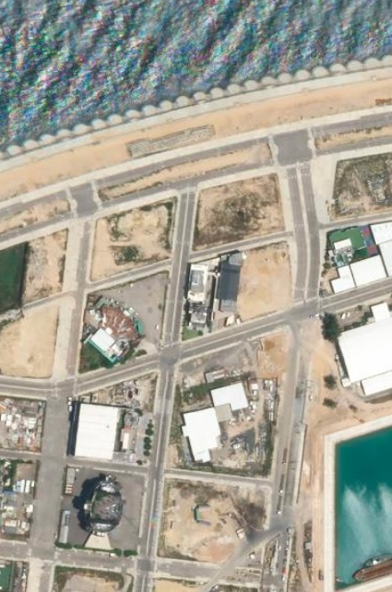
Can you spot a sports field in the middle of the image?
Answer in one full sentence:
No, no sports field can be made out in the middle of the image.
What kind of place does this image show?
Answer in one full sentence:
This image shows a port.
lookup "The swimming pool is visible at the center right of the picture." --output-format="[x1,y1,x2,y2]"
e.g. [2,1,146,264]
[336,252,353,268]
